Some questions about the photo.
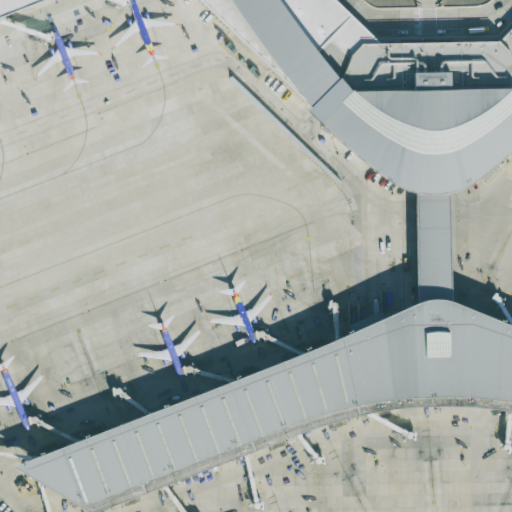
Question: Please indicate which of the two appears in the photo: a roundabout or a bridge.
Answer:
bridge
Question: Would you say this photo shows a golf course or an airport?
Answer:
airport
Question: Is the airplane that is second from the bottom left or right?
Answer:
left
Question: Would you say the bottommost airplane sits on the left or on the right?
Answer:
left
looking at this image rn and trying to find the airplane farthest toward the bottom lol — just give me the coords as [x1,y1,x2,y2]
[0,368,44,430]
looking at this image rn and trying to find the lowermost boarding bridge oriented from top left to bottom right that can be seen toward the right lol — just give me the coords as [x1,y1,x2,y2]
[298,435,326,466]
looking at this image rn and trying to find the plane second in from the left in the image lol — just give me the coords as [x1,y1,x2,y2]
[37,28,100,90]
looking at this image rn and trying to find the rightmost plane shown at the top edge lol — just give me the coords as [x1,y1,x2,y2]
[115,0,177,66]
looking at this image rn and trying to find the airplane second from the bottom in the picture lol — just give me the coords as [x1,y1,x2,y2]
[137,316,199,378]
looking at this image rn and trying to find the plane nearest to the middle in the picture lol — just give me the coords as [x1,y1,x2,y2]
[209,282,270,344]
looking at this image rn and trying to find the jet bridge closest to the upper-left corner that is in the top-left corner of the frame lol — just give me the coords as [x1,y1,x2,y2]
[0,18,54,41]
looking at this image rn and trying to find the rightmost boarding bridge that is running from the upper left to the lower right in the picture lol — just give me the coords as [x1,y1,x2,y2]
[491,292,512,324]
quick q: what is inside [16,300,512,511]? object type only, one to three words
building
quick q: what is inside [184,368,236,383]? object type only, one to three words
jet bridge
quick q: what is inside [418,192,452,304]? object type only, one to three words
bridge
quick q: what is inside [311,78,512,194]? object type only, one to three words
building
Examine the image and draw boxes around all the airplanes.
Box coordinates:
[0,368,44,430]
[115,0,177,66]
[37,28,100,90]
[209,282,270,344]
[137,316,199,378]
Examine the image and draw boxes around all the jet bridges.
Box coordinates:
[184,368,236,383]
[254,332,306,354]
[110,385,153,414]
[246,455,262,512]
[109,0,132,8]
[328,304,340,340]
[162,486,187,512]
[298,435,326,466]
[369,414,419,440]
[0,450,40,460]
[28,419,76,445]
[0,18,54,41]
[502,412,512,456]
[491,292,512,324]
